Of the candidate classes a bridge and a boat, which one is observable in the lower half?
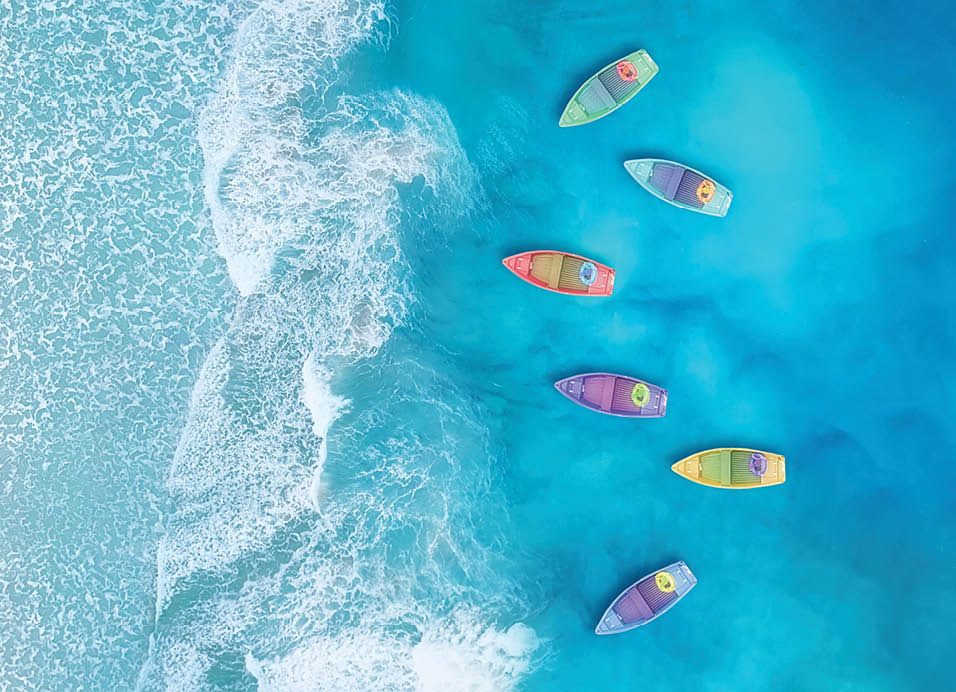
boat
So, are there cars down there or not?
No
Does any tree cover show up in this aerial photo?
No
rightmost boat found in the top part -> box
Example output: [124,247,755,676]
[624,159,734,218]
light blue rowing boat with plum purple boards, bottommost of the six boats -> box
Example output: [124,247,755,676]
[596,561,697,636]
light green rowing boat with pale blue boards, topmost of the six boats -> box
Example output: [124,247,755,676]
[559,49,659,127]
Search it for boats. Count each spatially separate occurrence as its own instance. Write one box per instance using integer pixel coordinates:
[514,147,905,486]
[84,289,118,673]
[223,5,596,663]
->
[596,561,697,636]
[555,374,668,417]
[624,159,734,218]
[672,448,786,489]
[502,251,615,296]
[559,49,659,127]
